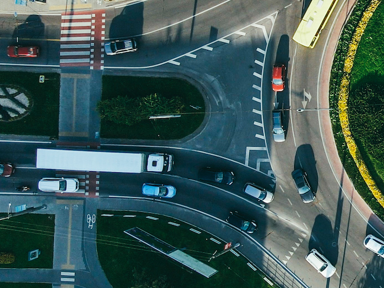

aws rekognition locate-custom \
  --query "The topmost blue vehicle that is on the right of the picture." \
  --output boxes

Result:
[270,110,286,141]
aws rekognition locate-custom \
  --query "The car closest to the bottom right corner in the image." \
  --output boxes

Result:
[362,234,384,258]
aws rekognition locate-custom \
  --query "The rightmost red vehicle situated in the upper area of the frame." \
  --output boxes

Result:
[270,64,286,93]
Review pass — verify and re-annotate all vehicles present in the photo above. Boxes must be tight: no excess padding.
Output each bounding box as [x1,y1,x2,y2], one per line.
[7,43,41,59]
[32,148,180,176]
[242,181,275,204]
[0,161,16,177]
[37,176,80,194]
[270,64,286,93]
[291,167,316,202]
[304,247,336,279]
[104,37,139,55]
[226,211,257,234]
[270,110,286,141]
[292,0,340,50]
[362,234,384,258]
[142,182,177,200]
